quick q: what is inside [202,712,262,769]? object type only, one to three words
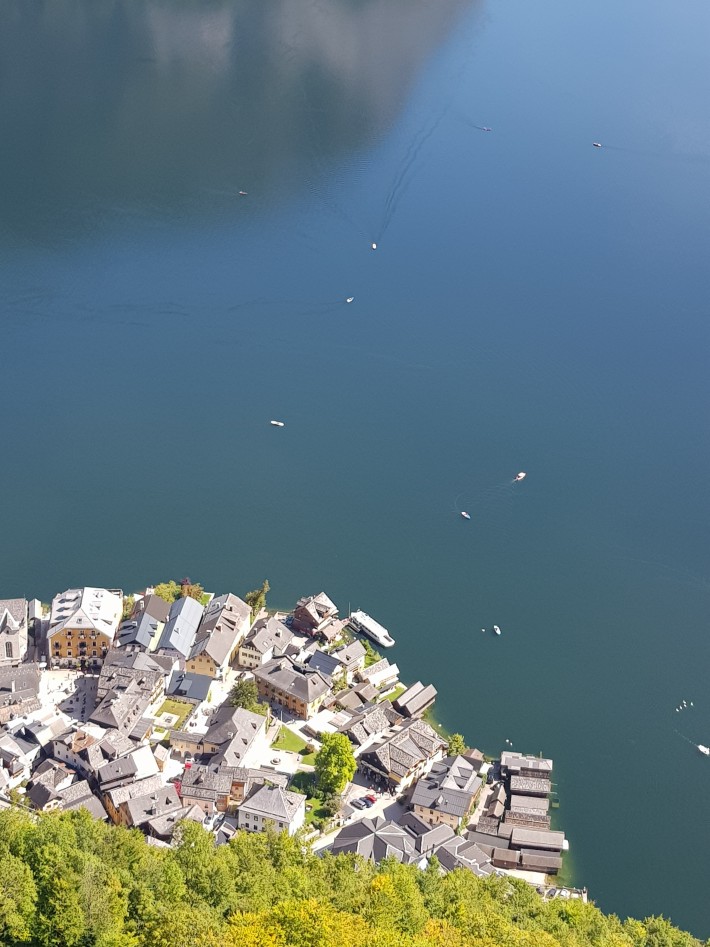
house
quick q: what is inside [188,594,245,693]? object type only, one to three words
house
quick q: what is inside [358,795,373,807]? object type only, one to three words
vehicle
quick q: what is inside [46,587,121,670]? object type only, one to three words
building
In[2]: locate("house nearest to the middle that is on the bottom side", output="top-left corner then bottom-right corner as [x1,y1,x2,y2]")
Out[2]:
[293,590,341,648]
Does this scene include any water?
Yes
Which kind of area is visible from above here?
residential area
